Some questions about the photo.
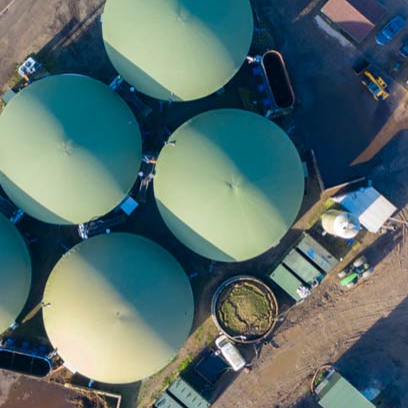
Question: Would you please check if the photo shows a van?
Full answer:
Yes, I can see a van in this picture.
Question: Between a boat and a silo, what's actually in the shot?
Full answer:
Of the two, only a silo appears.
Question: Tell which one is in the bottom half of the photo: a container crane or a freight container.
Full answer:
The one visible in the bottom half of the photo is a freight container.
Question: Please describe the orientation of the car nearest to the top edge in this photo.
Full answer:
What the image shows is the car nearest to the top edge lying diagonally.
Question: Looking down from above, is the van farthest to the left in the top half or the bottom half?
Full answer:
The bottom half of the photo is where the van farthest to the left is.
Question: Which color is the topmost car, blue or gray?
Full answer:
In this view, the topmost car is blue.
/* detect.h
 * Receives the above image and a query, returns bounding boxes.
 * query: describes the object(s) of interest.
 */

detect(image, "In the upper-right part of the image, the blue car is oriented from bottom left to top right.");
[374,15,405,47]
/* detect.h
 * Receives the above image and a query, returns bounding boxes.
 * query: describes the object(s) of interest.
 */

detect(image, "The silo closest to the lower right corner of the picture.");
[322,210,361,239]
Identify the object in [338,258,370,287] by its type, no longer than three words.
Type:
work vehicle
